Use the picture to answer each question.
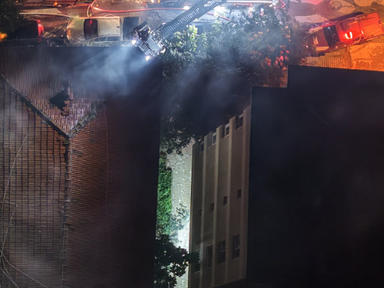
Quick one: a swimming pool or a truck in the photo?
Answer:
truck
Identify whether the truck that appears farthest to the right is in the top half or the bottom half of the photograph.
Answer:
top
